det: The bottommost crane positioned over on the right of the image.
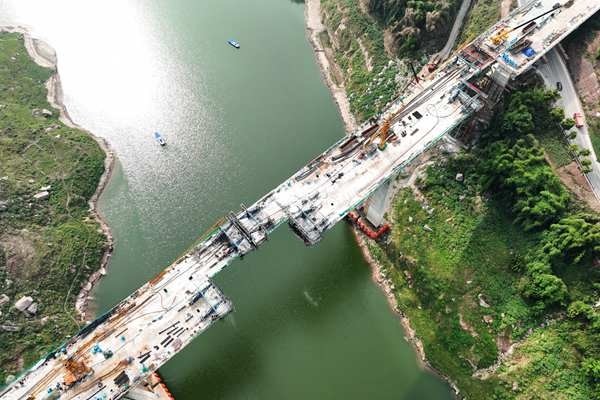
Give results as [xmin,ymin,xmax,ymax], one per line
[364,108,411,155]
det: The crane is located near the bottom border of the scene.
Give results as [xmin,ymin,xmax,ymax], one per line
[59,350,96,388]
